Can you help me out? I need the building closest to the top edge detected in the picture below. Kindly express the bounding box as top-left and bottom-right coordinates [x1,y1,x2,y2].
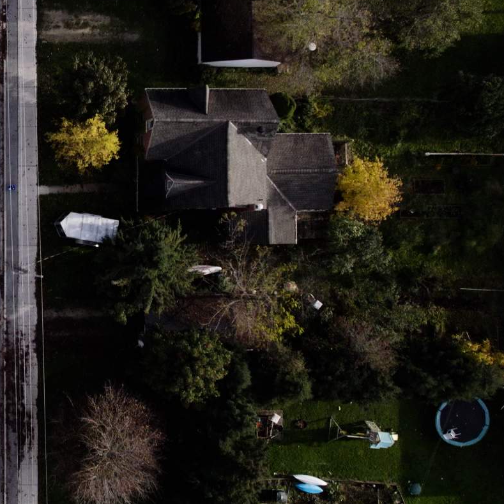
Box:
[193,0,280,66]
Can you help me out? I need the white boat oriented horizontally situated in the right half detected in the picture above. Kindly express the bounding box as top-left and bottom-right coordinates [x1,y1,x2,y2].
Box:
[293,474,328,487]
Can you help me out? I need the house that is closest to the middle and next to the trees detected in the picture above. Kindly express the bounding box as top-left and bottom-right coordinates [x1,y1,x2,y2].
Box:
[127,79,342,244]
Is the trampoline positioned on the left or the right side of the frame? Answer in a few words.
right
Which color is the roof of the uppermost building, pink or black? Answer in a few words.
black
